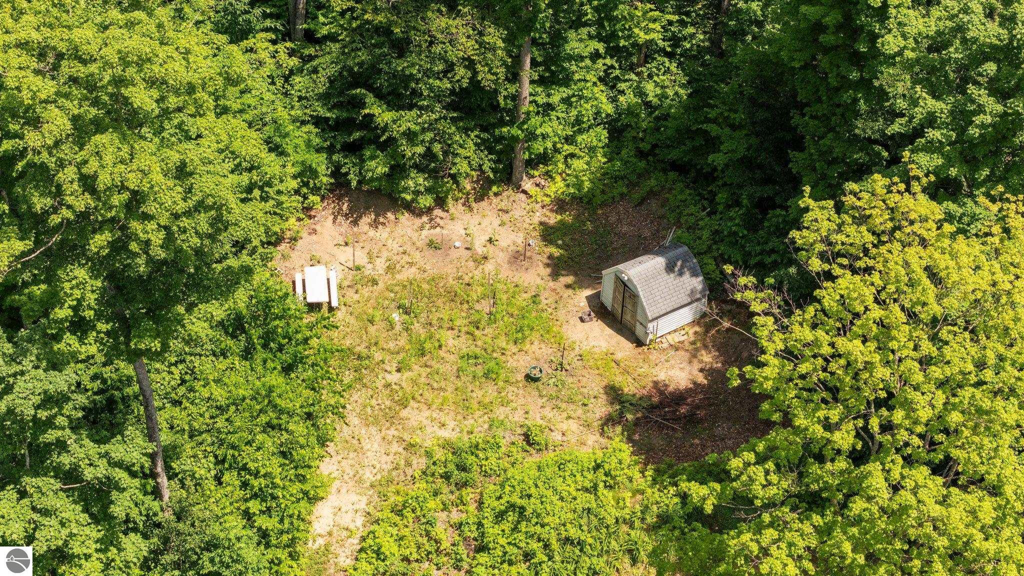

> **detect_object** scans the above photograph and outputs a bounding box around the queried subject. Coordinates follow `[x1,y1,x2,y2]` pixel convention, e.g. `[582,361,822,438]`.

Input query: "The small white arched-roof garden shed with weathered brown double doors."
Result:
[597,238,710,344]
